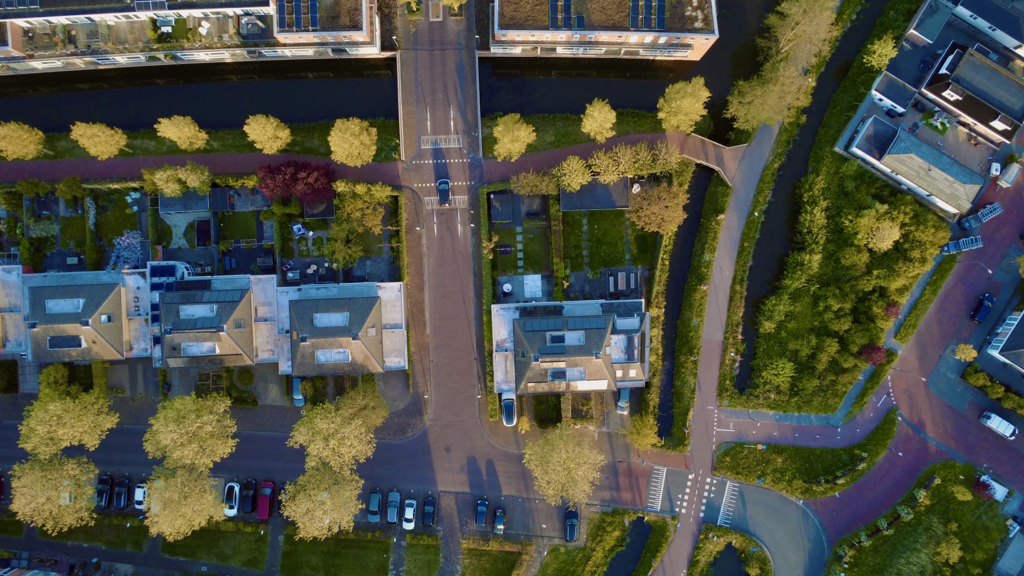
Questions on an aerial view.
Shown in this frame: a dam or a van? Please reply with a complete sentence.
Looking from above, you can make out a van.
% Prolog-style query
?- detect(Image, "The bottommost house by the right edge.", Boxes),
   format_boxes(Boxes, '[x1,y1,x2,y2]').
[984,296,1024,378]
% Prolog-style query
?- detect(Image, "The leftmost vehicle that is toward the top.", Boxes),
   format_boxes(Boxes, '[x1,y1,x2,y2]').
[436,177,451,208]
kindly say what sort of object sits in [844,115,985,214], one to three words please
house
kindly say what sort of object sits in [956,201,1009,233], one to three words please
truck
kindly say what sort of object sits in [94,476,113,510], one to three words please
car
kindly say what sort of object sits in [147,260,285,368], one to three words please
house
